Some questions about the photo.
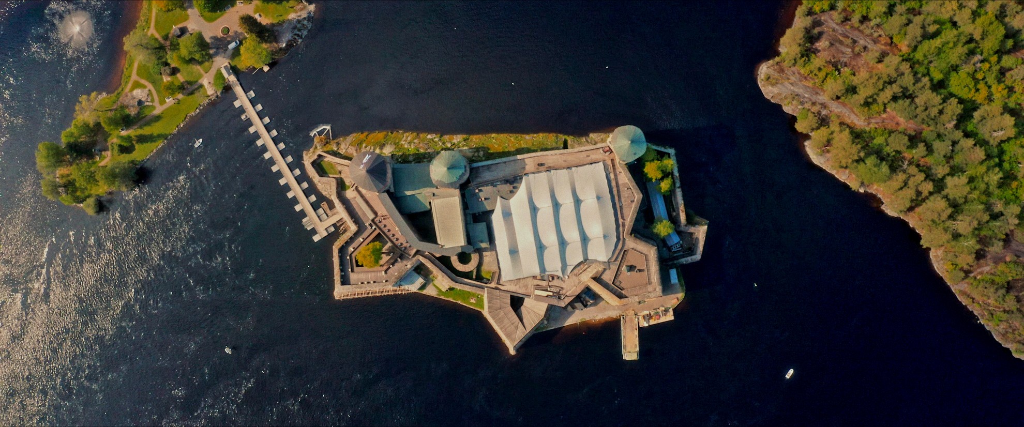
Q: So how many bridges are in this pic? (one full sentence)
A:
Only 1 bridge is visible.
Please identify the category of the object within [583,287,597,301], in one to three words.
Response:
vehicle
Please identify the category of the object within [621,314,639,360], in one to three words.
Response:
pier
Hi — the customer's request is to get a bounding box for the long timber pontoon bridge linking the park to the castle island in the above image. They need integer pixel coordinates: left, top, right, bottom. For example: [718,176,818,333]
[218,63,342,243]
